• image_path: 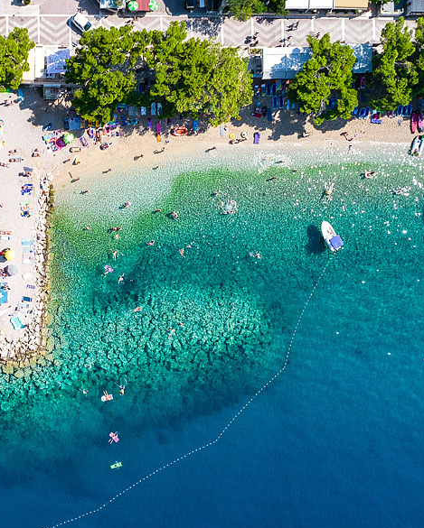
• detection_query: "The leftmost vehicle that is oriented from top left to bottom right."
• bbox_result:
[68,4,93,34]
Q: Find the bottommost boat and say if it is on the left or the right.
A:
right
